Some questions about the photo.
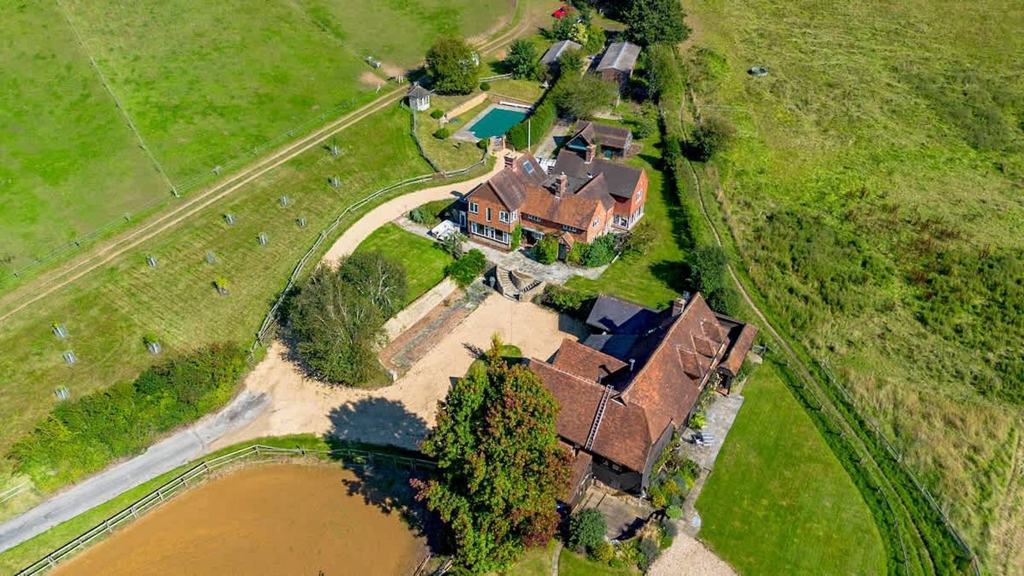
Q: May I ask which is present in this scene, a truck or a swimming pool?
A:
swimming pool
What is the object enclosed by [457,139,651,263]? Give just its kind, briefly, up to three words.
house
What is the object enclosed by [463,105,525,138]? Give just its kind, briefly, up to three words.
swimming pool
